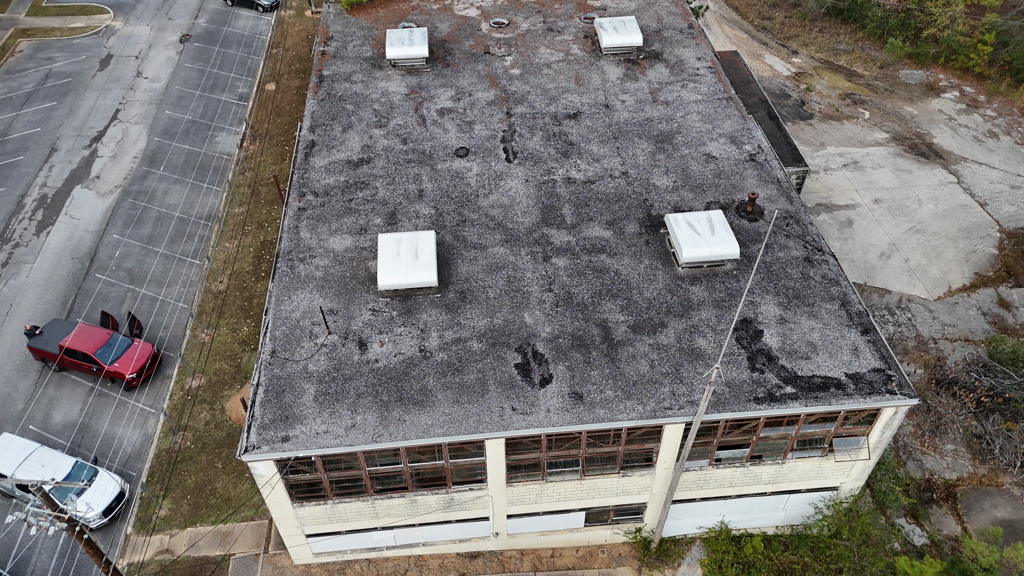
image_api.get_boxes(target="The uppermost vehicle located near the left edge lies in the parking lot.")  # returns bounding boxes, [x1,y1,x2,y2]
[27,309,168,392]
